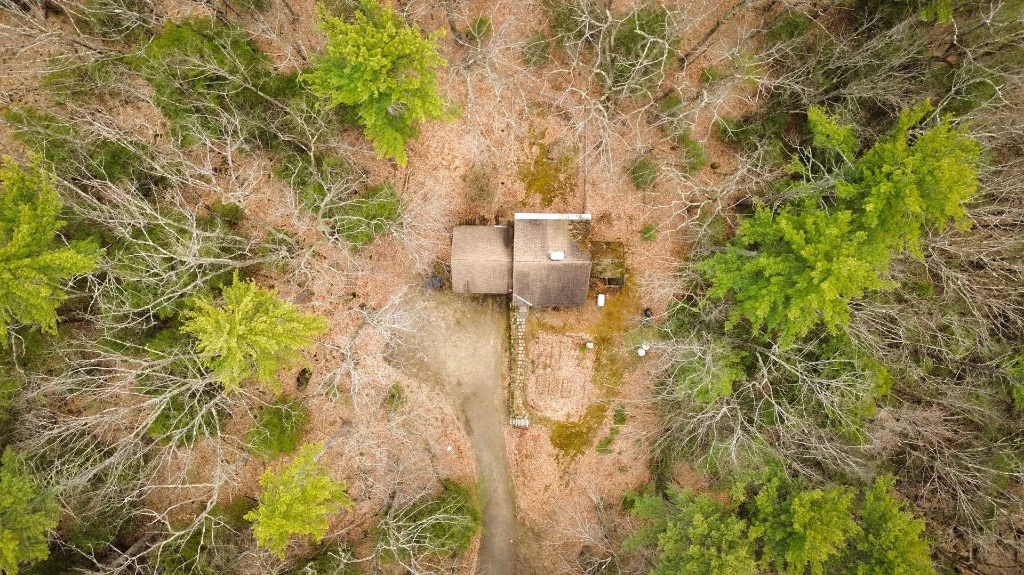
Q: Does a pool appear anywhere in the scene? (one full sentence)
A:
No, I can't see a single pool in this photo.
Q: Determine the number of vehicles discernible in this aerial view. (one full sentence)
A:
There are no vehicles in the image.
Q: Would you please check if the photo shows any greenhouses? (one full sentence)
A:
No, the photo shows no greenhouse.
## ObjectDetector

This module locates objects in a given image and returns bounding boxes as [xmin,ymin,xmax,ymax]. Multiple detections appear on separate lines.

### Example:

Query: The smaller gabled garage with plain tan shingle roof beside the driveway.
[450,224,513,295]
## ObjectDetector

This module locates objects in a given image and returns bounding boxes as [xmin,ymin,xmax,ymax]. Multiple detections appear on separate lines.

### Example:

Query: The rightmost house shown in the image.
[513,215,592,307]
